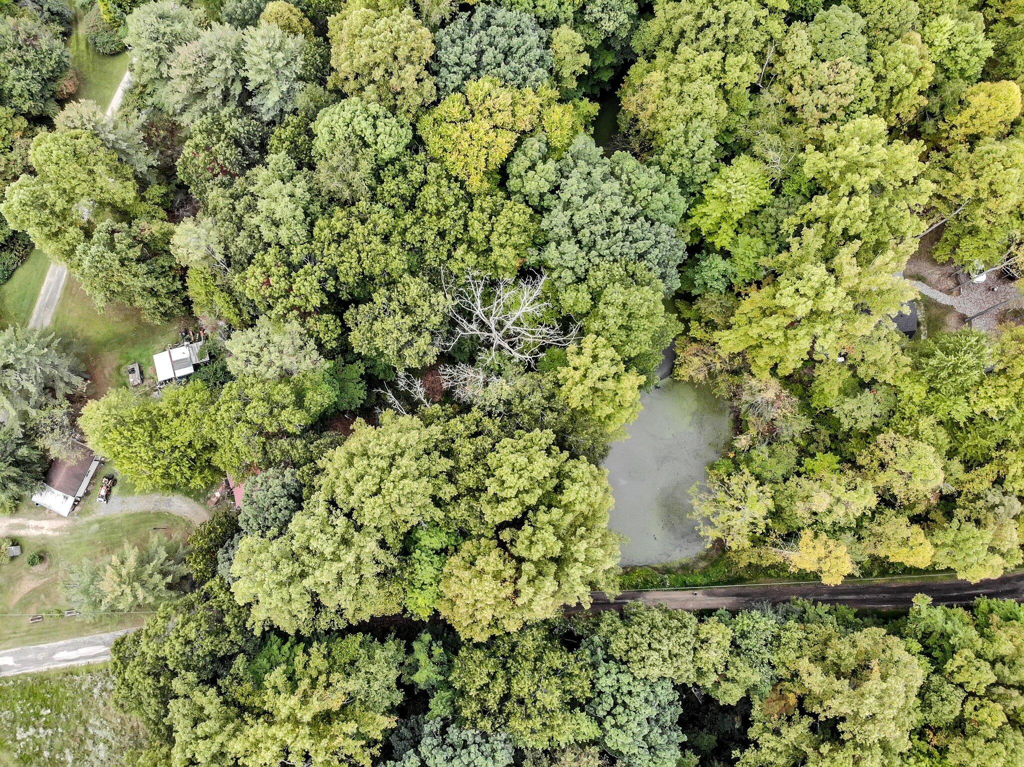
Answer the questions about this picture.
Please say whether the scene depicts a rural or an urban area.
rural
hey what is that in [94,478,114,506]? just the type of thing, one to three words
work vehicle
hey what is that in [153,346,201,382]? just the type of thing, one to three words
shed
